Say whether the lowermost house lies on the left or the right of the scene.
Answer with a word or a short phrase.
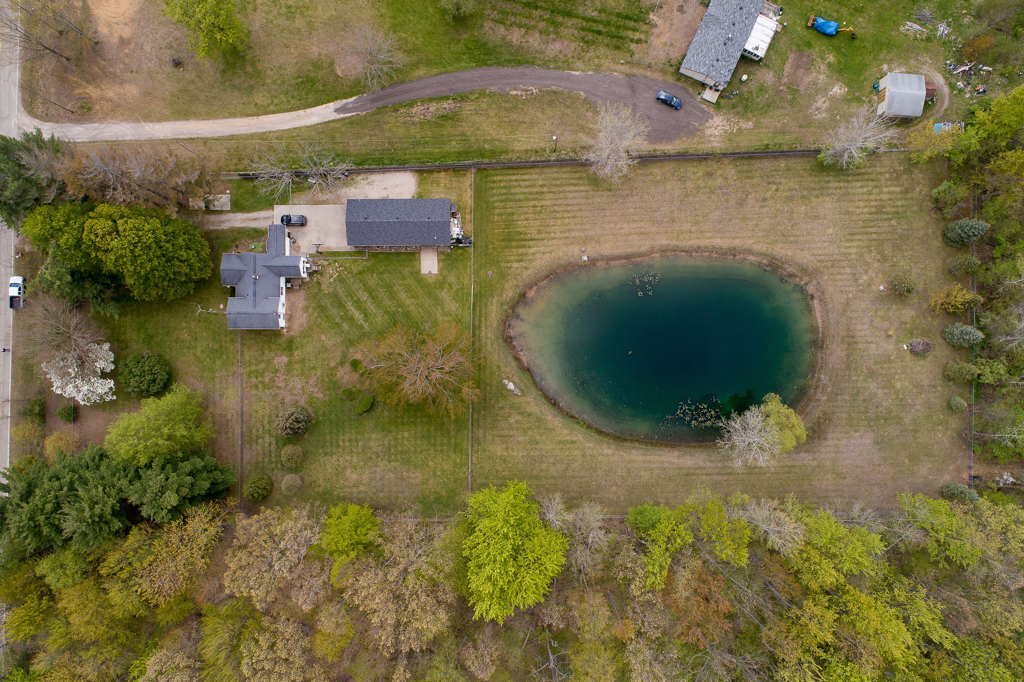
left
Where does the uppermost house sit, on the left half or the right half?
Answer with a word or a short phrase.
right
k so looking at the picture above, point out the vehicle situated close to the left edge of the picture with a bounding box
[3,276,22,309]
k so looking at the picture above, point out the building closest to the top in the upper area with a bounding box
[678,0,766,90]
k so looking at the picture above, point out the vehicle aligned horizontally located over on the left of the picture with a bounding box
[279,212,307,226]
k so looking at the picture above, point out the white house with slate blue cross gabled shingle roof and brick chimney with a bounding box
[221,224,307,329]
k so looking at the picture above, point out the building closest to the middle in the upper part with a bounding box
[345,198,450,246]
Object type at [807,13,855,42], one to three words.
work vehicle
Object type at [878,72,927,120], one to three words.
shed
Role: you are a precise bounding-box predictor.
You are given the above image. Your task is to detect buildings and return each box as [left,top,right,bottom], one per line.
[878,72,927,120]
[221,224,307,329]
[678,0,766,90]
[345,198,450,246]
